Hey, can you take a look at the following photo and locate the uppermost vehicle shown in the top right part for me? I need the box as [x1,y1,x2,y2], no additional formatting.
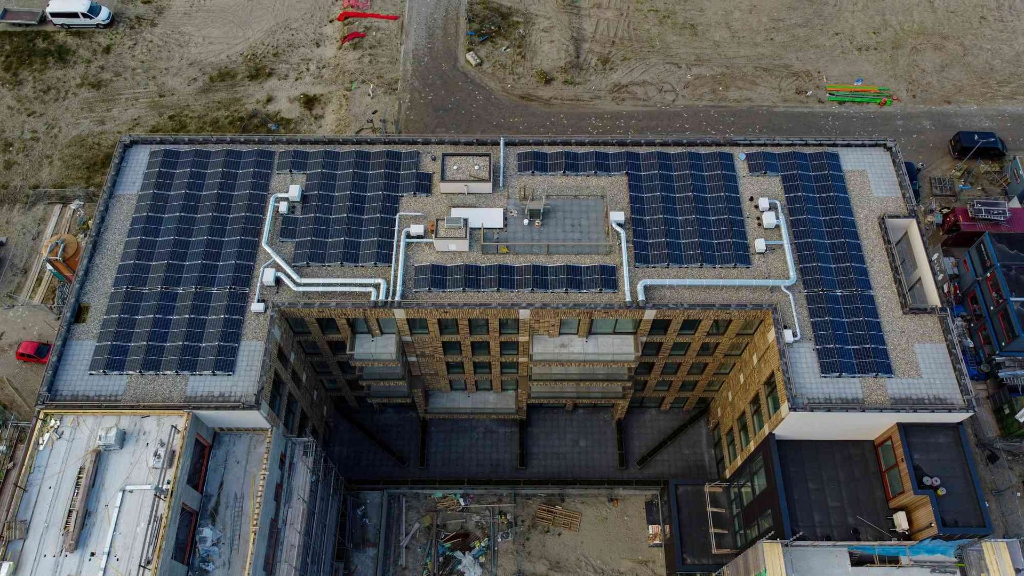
[947,127,1009,157]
